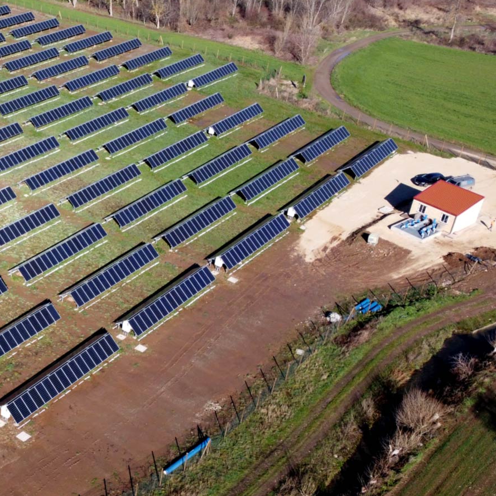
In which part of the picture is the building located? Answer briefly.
right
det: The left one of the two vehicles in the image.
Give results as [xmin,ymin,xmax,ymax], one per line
[415,172,444,185]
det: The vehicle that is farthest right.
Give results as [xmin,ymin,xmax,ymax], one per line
[454,172,484,187]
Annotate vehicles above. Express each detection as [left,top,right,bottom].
[415,172,444,185]
[454,172,484,187]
